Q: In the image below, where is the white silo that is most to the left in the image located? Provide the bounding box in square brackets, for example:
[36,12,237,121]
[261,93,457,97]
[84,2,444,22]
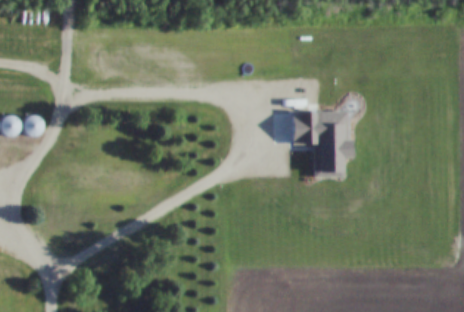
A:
[0,115,22,136]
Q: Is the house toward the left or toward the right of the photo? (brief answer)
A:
right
